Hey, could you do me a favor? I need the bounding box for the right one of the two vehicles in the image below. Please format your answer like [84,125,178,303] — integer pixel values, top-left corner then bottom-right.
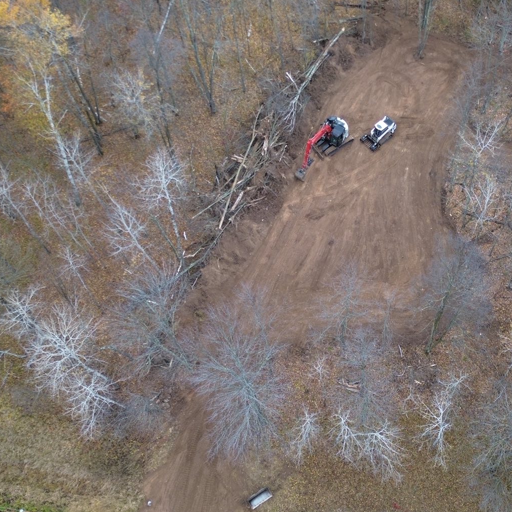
[360,117,397,153]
